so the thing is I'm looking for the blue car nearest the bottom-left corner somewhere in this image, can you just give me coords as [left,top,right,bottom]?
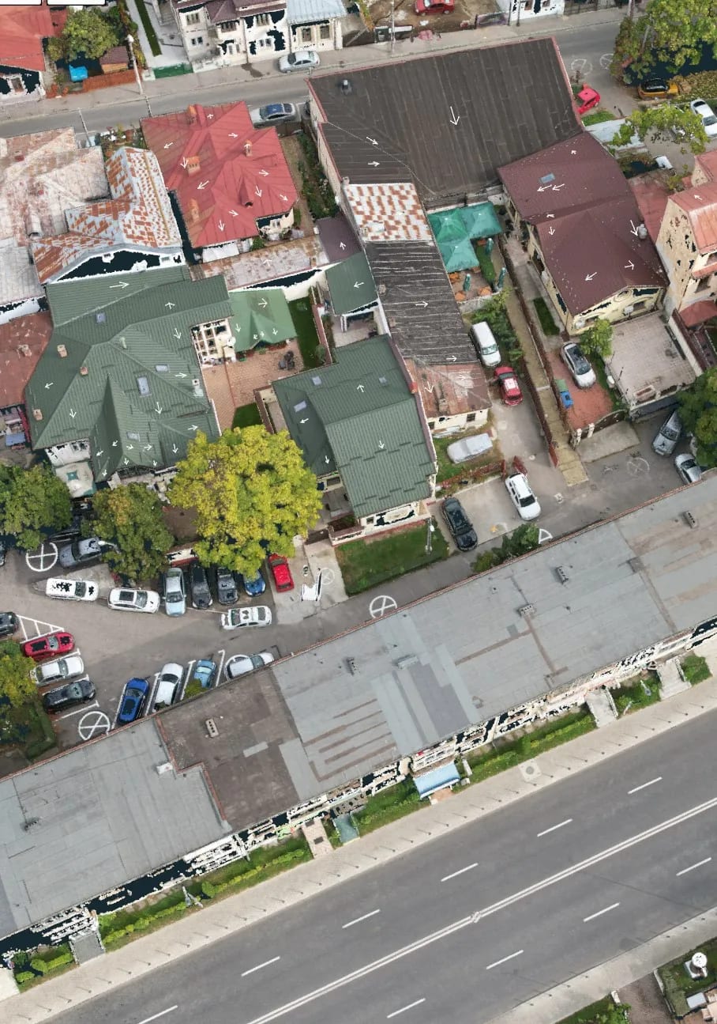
[116,677,149,727]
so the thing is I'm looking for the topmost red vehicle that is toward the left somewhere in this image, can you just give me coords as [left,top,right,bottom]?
[270,554,293,594]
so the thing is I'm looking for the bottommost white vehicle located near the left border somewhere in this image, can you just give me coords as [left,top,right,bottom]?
[32,655,86,686]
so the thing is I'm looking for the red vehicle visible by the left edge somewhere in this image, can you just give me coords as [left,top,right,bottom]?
[20,630,76,662]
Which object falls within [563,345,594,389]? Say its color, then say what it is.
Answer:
gray car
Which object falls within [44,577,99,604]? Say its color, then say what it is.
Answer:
white car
